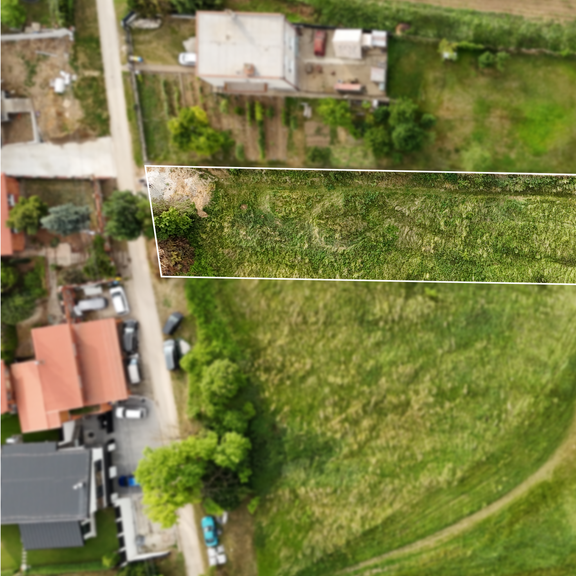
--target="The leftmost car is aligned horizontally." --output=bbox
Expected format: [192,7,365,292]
[78,298,109,312]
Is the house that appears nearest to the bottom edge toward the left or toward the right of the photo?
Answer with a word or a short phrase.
left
